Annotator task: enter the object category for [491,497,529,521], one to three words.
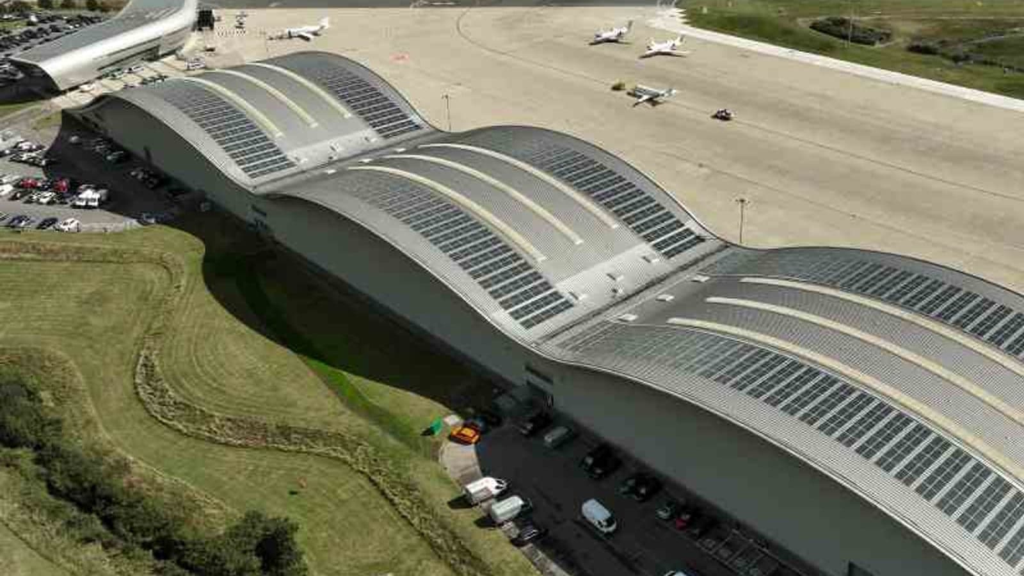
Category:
vehicle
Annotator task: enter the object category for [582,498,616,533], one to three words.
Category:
van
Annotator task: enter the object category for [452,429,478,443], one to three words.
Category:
car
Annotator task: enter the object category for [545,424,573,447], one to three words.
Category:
vehicle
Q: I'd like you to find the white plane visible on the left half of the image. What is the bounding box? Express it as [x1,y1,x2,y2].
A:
[276,14,333,38]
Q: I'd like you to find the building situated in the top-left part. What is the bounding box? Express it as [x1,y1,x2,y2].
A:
[8,0,214,91]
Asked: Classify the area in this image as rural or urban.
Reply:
urban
